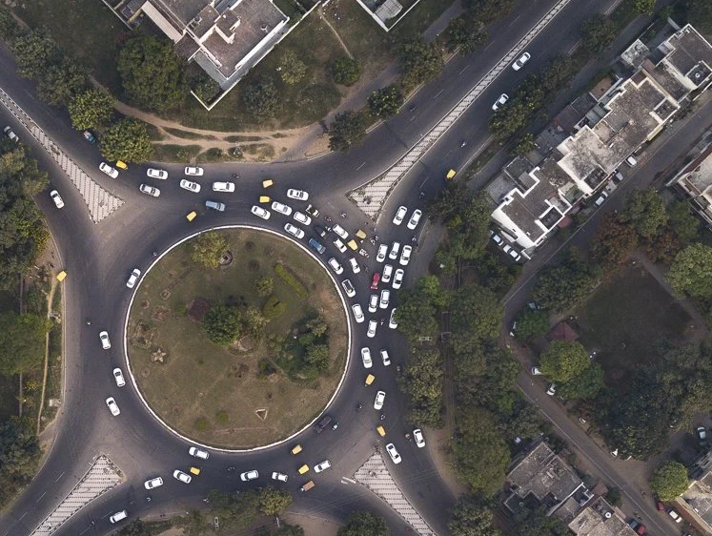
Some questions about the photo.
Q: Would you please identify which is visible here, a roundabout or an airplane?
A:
roundabout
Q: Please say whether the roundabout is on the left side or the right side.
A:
left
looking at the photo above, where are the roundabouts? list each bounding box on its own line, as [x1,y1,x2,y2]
[124,224,353,454]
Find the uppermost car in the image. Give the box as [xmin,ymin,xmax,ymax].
[512,52,531,72]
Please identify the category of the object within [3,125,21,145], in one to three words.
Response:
car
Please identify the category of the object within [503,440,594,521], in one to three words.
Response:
house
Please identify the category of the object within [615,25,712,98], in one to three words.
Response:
house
